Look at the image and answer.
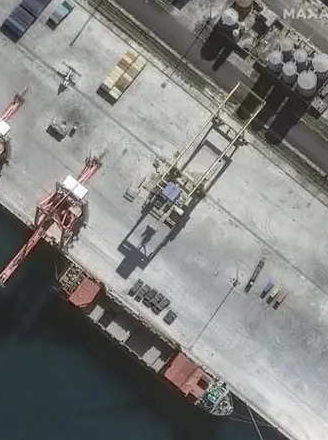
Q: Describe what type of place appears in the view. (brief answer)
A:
port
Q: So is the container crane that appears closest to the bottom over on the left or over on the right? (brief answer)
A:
left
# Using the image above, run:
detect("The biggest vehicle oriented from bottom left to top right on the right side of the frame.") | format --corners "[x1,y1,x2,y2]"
[243,261,267,289]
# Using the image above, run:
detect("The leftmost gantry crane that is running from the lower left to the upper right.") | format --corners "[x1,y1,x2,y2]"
[0,158,110,292]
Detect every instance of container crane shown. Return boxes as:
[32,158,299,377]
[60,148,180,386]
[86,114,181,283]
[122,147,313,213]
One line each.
[0,158,110,292]
[0,94,30,167]
[137,83,266,228]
